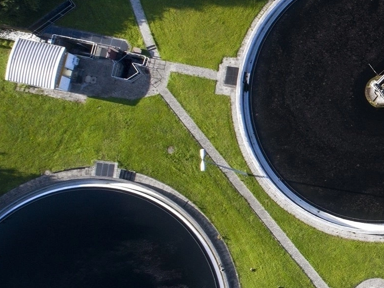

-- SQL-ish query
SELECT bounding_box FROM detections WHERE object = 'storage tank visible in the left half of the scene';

[0,168,243,288]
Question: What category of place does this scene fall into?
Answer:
industrial area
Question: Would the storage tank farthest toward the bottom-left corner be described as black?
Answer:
Yes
